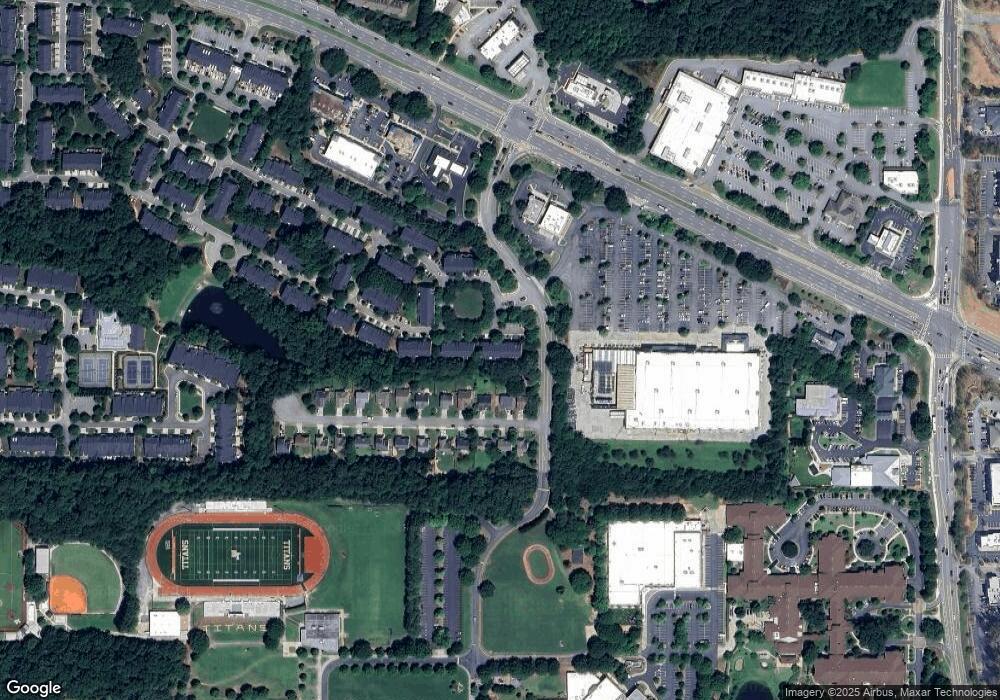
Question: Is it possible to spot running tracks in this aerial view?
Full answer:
Yes, I can see a running track in this picture.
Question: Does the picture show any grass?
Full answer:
Yes, the picture does contain grass.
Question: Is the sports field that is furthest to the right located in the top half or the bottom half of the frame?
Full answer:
Seen from above, the sports field that is furthest to the right lies in the bottom half of the view.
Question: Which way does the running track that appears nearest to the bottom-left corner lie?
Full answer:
What the image shows is the running track that appears nearest to the bottom-left corner lying horizontally.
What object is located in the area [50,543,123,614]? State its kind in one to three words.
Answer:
baseball field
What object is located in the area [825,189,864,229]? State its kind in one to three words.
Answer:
building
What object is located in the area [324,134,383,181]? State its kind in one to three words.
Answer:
building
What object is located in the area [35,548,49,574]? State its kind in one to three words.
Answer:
shed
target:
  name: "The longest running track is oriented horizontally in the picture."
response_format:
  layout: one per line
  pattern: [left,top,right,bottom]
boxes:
[146,512,331,597]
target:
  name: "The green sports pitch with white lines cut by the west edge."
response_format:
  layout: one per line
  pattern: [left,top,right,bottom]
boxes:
[0,520,24,625]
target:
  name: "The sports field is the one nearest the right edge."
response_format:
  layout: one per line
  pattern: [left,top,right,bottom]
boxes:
[156,522,315,586]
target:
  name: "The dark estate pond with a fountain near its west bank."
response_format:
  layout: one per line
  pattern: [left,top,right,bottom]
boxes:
[181,287,285,358]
